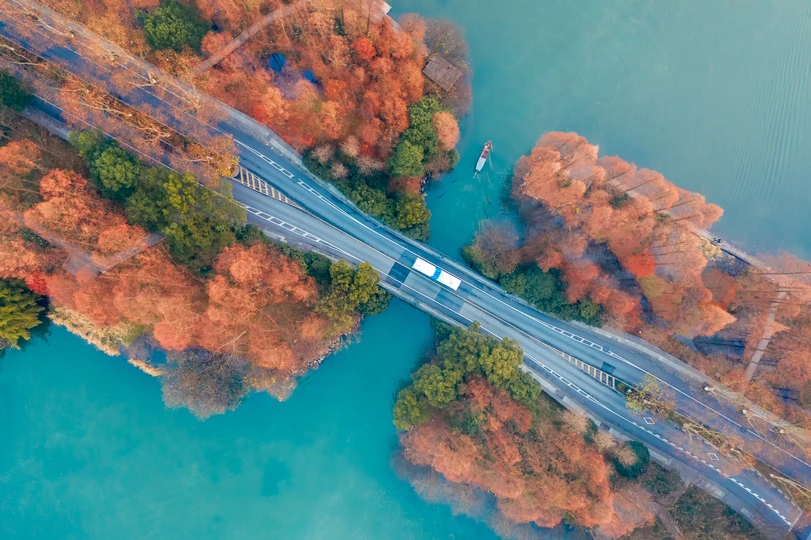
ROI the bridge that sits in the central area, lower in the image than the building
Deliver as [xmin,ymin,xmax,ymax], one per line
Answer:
[366,228,497,329]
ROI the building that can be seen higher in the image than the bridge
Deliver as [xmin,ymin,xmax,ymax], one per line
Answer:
[424,54,462,95]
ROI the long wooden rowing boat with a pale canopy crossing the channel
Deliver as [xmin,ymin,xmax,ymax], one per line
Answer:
[473,140,491,179]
